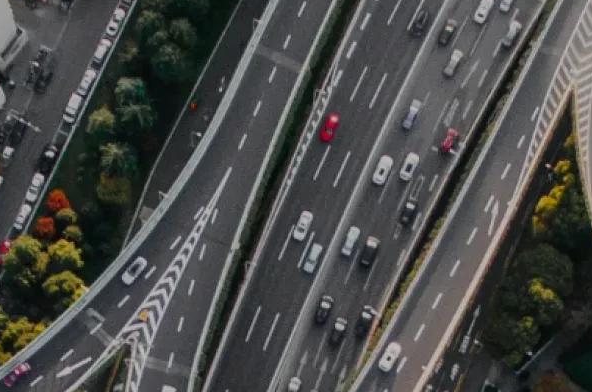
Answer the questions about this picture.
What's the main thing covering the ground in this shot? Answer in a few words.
paved ground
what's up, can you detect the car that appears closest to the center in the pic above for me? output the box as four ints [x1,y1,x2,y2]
[293,211,312,240]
